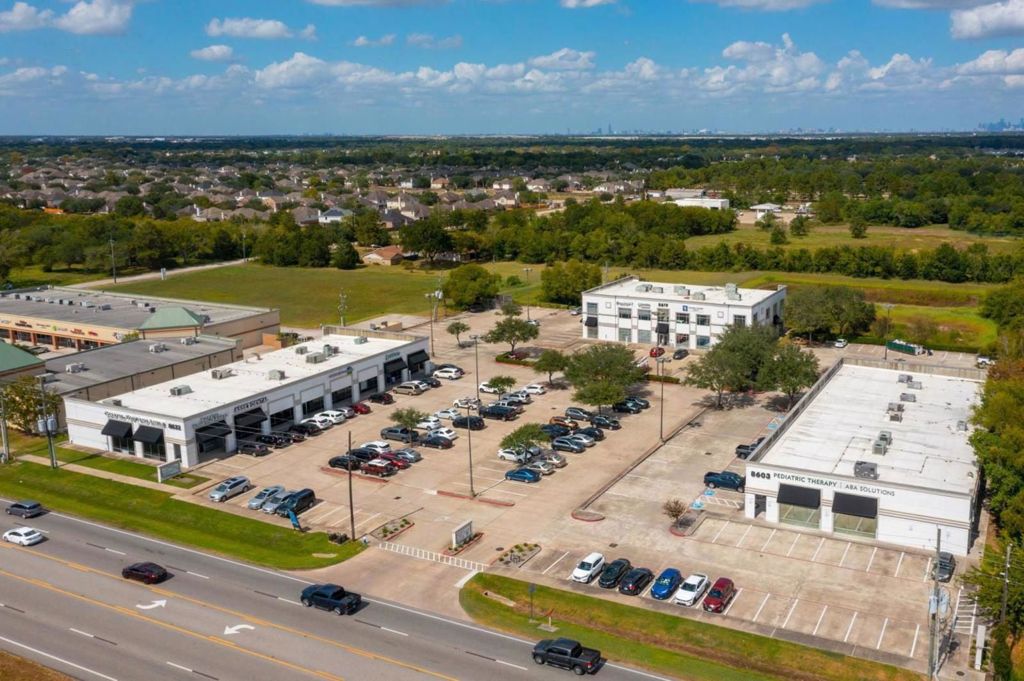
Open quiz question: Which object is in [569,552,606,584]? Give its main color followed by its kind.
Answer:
white car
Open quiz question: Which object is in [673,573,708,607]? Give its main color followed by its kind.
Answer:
white car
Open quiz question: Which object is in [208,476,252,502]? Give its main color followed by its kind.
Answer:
gray car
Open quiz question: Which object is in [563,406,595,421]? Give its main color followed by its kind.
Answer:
gray car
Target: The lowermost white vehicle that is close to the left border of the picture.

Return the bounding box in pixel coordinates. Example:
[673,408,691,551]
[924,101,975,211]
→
[0,525,44,546]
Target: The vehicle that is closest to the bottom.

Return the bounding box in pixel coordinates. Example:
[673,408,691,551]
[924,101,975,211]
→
[529,637,603,676]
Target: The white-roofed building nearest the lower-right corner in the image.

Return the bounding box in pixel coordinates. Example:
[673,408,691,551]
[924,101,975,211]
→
[745,357,999,557]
